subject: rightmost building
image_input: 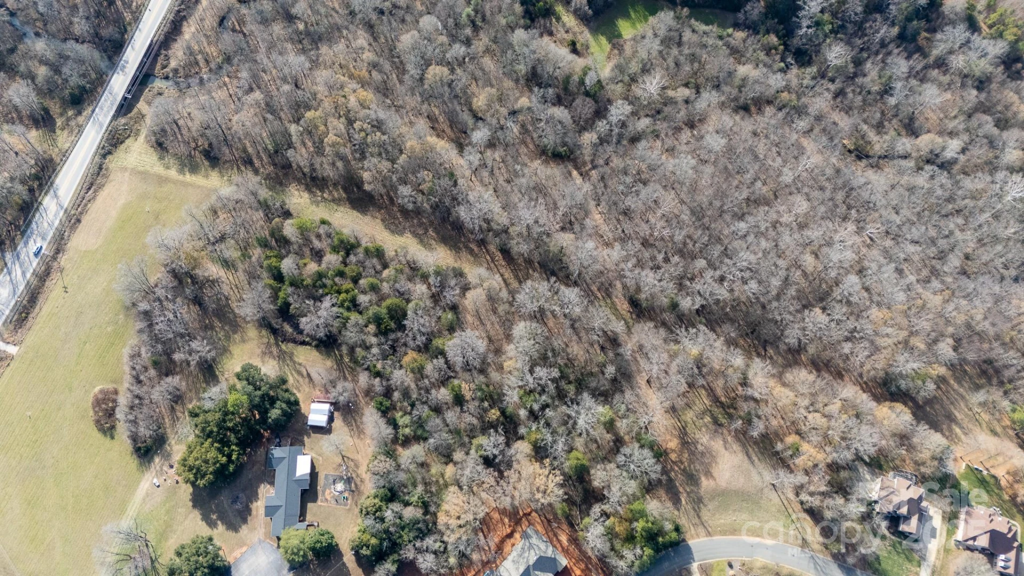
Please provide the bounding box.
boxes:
[953,506,1023,576]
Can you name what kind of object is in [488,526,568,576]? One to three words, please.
house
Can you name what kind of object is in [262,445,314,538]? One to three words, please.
house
